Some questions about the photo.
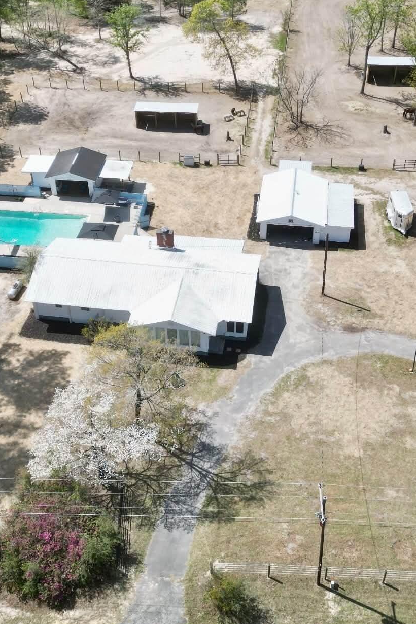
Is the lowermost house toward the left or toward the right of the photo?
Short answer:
left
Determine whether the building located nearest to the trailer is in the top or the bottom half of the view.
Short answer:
top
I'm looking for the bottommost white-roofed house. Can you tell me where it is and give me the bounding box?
[23,225,262,360]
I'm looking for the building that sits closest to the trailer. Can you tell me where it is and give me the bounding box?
[255,160,355,247]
